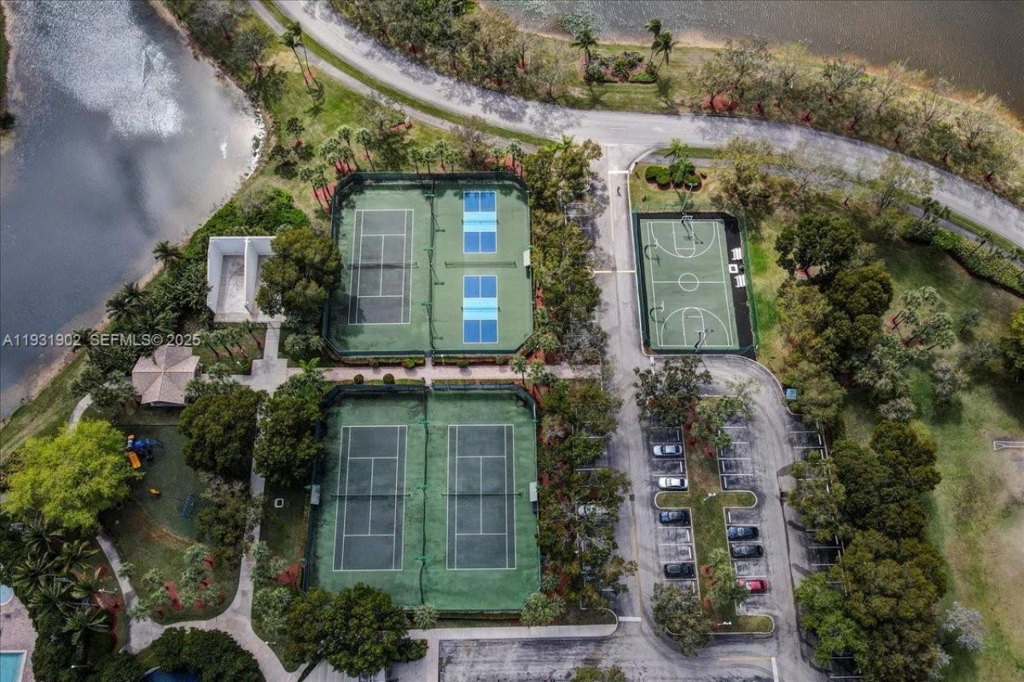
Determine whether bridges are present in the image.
No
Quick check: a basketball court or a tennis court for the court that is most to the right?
basketball court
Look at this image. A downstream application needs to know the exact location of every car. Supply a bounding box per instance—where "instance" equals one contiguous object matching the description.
[738,579,769,593]
[578,503,607,517]
[728,525,758,539]
[732,544,764,558]
[653,444,682,457]
[663,563,695,577]
[660,510,690,524]
[658,477,688,490]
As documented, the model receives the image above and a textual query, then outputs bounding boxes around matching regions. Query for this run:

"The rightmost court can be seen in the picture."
[637,212,757,362]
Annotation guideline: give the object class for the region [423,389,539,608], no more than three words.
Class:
tennis court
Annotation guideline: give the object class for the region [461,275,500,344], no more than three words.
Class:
sports court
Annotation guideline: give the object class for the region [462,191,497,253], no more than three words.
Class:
sports court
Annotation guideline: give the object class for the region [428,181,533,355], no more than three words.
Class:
tennis court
